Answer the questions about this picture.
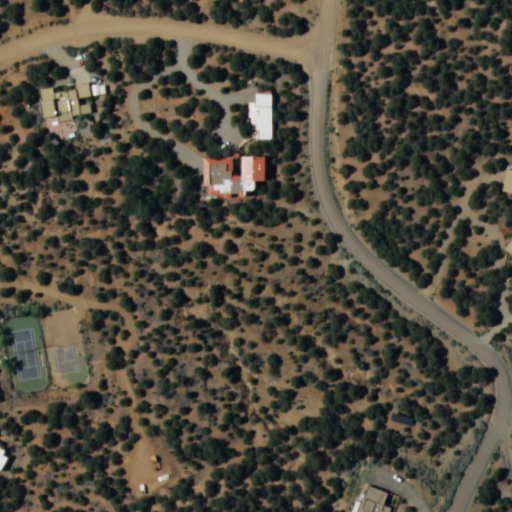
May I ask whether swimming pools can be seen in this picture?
No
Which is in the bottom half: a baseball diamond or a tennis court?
tennis court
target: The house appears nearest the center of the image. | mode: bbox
[204,154,266,198]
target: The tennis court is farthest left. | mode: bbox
[5,318,50,392]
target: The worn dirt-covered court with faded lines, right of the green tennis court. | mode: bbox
[43,310,88,386]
